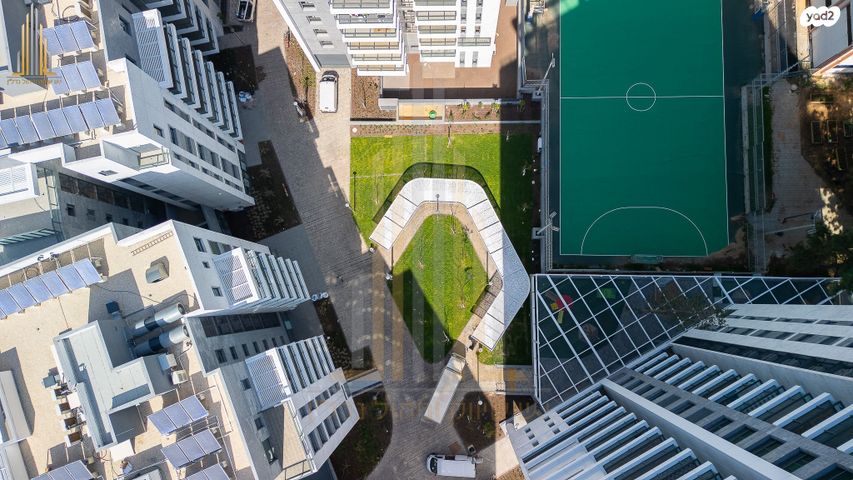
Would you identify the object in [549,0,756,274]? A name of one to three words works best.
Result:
sports court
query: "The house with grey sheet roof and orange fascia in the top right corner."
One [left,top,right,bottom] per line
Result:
[793,0,853,80]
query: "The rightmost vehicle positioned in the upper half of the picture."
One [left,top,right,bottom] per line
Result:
[317,72,337,110]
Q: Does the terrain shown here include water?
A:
No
